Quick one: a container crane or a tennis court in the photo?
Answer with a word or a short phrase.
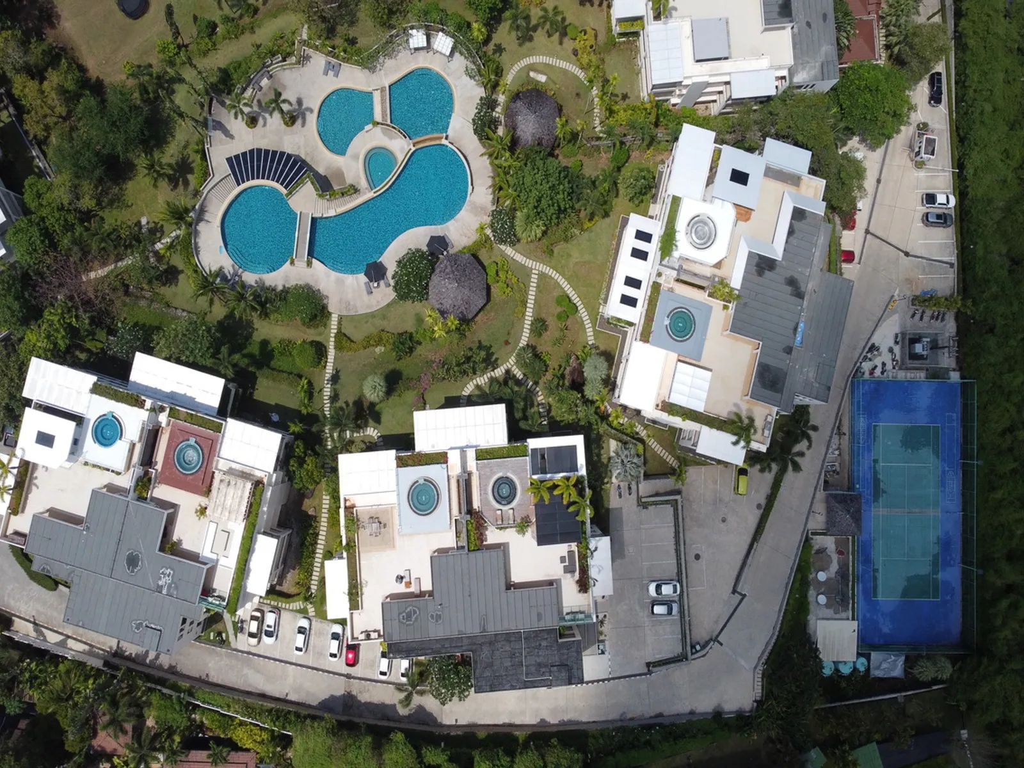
tennis court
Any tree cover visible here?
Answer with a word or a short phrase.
Yes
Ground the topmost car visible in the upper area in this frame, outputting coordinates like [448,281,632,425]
[929,67,948,106]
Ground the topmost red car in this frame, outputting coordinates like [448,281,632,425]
[832,214,859,229]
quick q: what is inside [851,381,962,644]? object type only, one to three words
tennis court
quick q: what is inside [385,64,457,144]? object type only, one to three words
swimming pool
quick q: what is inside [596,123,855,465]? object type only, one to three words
building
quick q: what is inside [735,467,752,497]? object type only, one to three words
car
